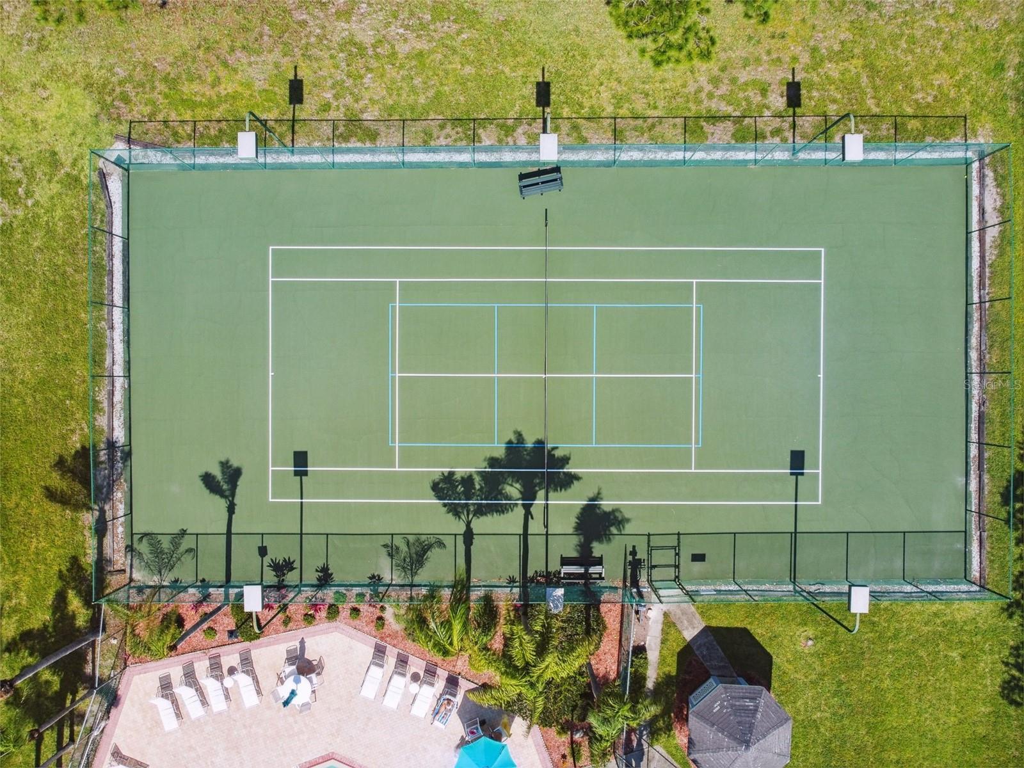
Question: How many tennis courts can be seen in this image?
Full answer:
In total, 1 tennis court can be seen.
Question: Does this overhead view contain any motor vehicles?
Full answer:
No, I can't see a single motor vehicle in this photo.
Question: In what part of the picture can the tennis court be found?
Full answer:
Look in the center portion of the view to spot the tennis court.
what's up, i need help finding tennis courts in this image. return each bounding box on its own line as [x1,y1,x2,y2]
[123,160,972,585]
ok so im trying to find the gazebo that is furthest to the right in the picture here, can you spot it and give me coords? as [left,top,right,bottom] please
[686,675,794,768]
